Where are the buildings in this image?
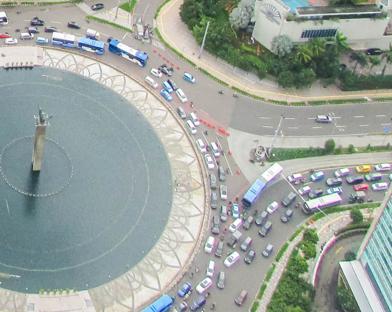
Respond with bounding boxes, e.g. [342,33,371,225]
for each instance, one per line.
[337,180,392,312]
[255,0,392,55]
